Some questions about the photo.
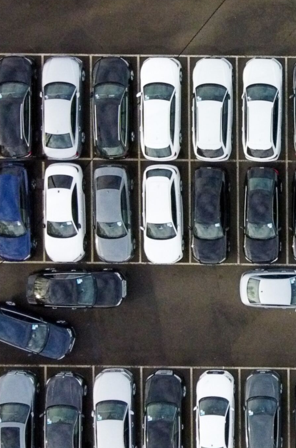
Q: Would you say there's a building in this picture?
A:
No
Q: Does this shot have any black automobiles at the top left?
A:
Yes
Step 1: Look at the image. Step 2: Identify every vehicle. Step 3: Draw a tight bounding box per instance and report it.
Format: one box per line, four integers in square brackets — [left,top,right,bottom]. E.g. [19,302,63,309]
[187,57,235,162]
[136,57,183,160]
[39,163,89,263]
[191,370,238,448]
[240,368,286,448]
[37,56,87,159]
[27,266,127,315]
[238,166,285,264]
[0,371,42,448]
[88,165,136,263]
[241,269,296,310]
[39,371,89,448]
[185,166,233,264]
[238,58,285,162]
[0,164,37,261]
[138,370,185,448]
[0,56,42,157]
[86,57,134,158]
[89,367,139,448]
[0,298,80,359]
[137,164,185,263]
